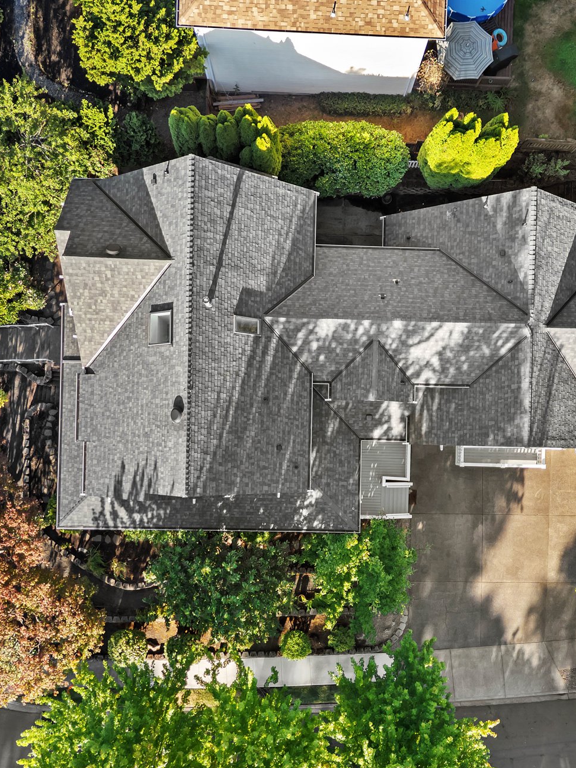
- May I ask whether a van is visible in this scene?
No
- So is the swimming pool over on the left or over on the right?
right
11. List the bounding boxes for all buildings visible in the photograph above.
[172,0,451,97]
[52,154,576,538]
